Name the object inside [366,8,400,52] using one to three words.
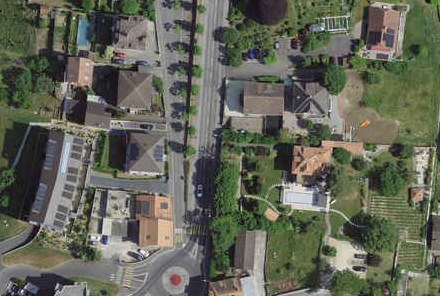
house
